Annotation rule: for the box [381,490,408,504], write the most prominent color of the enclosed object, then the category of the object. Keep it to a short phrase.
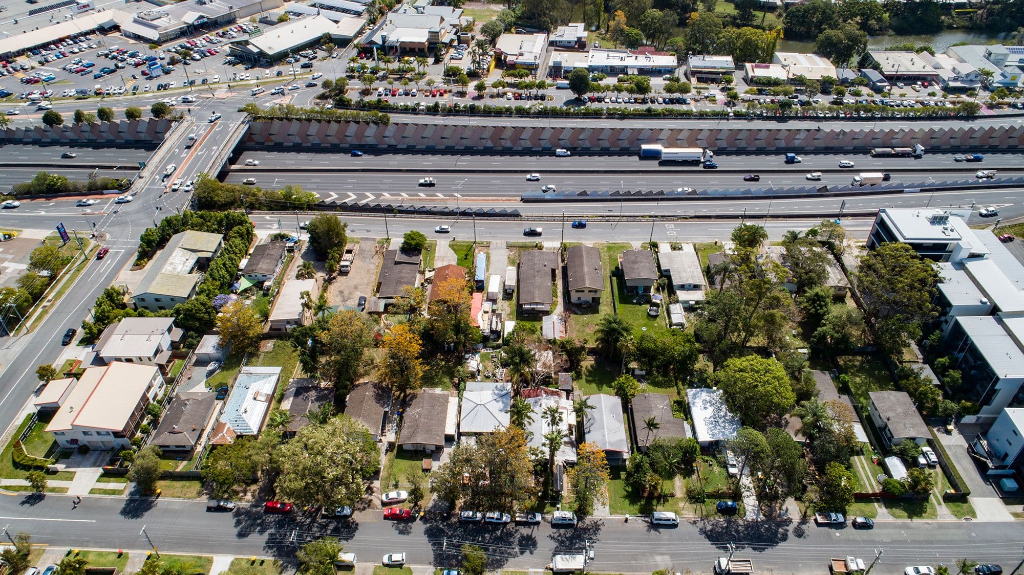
white car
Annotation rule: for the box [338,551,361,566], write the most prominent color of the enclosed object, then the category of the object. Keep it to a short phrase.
white vehicle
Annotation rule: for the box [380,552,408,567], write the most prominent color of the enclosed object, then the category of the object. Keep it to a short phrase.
white car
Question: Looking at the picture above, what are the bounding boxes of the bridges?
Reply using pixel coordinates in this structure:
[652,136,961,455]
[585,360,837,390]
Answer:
[129,116,249,196]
